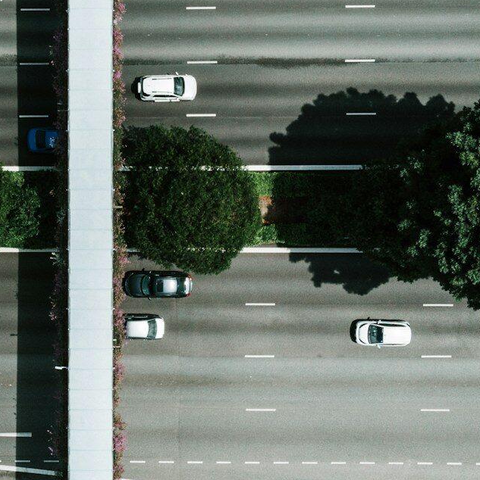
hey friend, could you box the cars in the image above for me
[121,313,166,340]
[27,126,60,153]
[124,269,194,300]
[134,71,199,101]
[354,319,416,349]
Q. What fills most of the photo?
paved ground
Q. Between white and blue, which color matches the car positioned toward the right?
white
